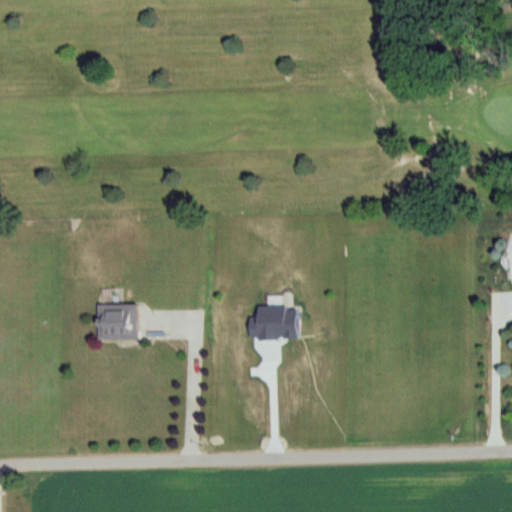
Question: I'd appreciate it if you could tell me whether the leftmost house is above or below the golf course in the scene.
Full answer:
The leftmost house appears below the golf course in the picture.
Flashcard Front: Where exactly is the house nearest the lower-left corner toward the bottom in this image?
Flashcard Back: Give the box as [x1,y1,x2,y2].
[92,304,138,340]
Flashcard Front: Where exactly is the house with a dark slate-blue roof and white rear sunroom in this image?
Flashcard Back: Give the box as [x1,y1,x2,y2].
[247,295,300,340]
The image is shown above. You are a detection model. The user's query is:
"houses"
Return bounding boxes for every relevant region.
[501,234,512,285]
[247,295,300,340]
[92,304,138,340]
